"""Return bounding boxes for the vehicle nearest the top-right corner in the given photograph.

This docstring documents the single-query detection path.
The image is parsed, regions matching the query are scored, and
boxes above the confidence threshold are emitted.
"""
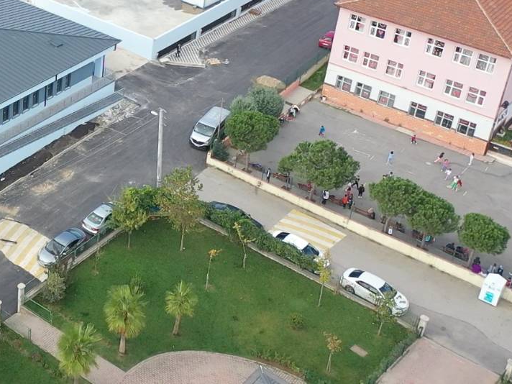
[316,30,336,53]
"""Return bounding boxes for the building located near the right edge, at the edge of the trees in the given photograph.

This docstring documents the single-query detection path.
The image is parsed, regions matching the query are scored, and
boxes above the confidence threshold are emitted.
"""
[322,0,512,157]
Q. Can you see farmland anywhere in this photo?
No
